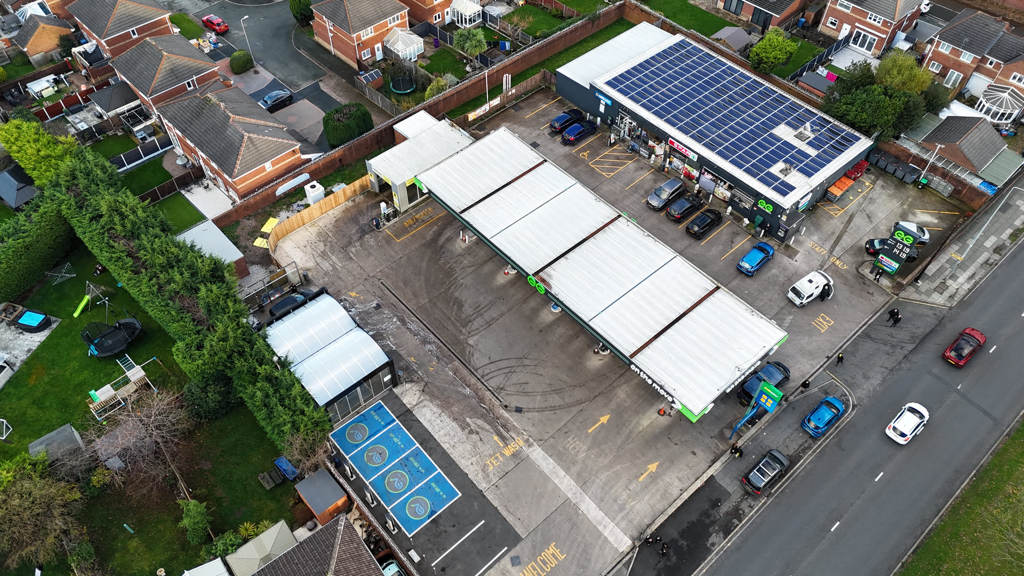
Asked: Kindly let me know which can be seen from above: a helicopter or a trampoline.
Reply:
trampoline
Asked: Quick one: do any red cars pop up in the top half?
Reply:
Yes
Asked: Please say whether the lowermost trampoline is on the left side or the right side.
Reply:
left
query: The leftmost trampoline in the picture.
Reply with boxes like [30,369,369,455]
[82,315,150,358]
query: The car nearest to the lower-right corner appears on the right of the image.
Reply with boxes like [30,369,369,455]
[885,403,928,446]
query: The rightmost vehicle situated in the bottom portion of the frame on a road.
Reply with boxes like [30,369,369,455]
[939,328,983,370]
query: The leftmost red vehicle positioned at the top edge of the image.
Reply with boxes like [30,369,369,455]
[200,16,232,35]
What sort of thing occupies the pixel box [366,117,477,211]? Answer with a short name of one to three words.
building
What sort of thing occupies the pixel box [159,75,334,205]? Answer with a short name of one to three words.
house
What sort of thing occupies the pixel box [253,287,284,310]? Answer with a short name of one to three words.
car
